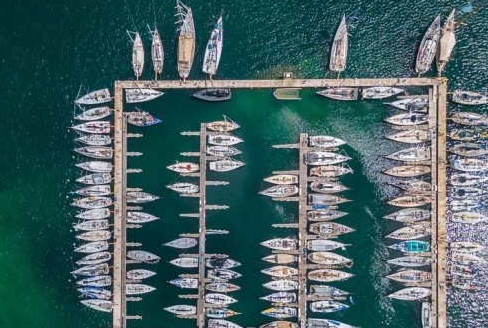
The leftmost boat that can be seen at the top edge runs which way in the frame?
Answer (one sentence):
From this overhead view, the leftmost boat that can be seen at the top edge appears to run up and down.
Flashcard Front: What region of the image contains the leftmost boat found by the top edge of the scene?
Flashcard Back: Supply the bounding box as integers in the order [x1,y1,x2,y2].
[125,2,145,82]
